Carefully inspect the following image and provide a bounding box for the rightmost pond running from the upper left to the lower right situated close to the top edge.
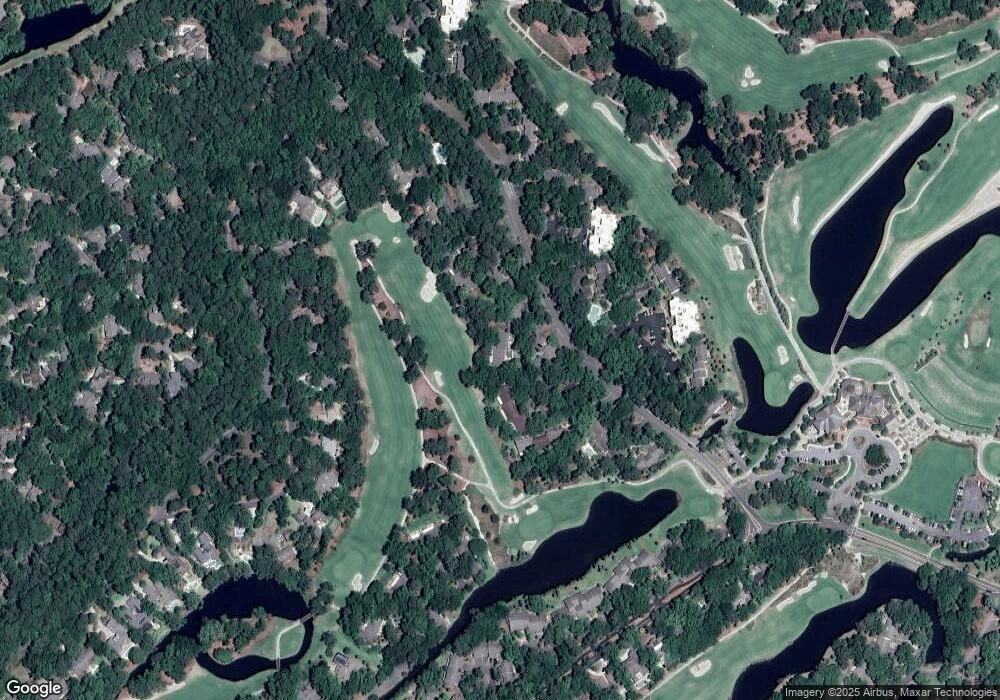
[571,0,731,174]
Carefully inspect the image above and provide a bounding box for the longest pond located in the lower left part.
[127,574,315,684]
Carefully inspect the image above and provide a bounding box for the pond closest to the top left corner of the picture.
[0,1,112,63]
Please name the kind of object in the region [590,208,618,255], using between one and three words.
building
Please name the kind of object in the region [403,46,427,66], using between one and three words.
swimming pool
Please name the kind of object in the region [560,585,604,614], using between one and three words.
building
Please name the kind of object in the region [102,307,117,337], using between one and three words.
house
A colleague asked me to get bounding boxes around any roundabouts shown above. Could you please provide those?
[846,429,900,495]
